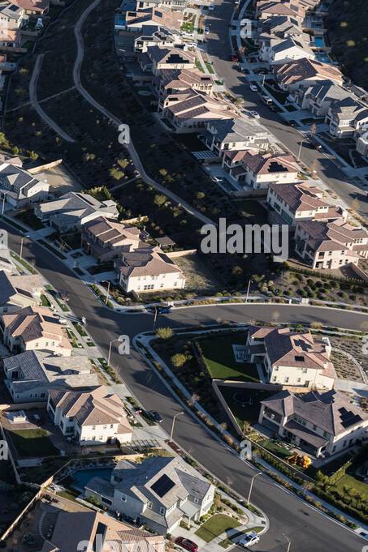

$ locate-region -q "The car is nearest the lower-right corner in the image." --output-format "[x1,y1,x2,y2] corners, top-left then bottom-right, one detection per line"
[239,531,260,547]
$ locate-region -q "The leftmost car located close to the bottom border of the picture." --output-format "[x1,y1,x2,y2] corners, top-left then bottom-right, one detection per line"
[175,539,197,552]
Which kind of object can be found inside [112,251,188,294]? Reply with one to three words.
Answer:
house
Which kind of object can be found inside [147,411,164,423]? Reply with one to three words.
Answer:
vehicle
